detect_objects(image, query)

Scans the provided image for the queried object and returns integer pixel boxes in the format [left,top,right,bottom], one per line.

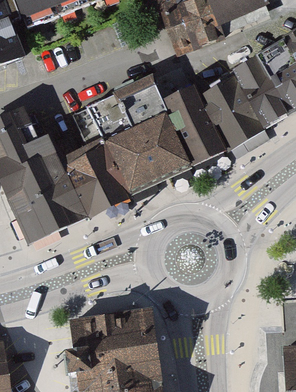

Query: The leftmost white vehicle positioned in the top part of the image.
[54,47,69,69]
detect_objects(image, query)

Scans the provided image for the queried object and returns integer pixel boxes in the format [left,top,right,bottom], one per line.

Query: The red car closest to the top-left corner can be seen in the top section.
[41,52,55,73]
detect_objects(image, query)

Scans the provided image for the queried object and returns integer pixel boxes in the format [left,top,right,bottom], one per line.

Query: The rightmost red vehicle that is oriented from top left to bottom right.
[64,92,79,112]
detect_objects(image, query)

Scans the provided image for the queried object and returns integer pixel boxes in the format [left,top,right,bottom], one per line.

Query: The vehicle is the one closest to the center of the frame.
[140,220,167,237]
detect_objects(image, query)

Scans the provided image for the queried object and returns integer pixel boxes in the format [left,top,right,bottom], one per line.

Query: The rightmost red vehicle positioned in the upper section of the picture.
[77,82,105,100]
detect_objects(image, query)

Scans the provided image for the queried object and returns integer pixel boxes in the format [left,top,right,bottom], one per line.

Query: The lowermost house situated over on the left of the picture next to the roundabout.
[65,306,165,392]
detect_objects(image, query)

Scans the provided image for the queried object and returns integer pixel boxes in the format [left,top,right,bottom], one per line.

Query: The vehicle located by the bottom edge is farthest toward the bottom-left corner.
[11,380,32,392]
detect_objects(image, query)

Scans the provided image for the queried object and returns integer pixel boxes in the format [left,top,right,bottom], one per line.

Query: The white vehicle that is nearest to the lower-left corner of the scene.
[26,289,44,317]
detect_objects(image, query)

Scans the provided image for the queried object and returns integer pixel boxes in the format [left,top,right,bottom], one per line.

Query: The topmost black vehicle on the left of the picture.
[66,43,80,64]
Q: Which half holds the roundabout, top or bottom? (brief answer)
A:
bottom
